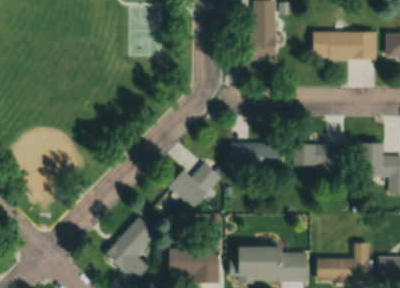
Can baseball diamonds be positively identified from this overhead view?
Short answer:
Yes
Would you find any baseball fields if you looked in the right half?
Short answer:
No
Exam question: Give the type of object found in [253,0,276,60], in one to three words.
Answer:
house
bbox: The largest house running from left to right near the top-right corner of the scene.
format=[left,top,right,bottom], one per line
[314,32,378,60]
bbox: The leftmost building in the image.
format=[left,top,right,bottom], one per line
[103,219,152,281]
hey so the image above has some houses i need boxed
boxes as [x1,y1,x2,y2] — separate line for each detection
[103,219,152,281]
[253,0,276,60]
[314,32,378,60]
[317,242,370,281]
[386,33,400,56]
[169,248,220,282]
[362,142,400,194]
[378,256,400,279]
[230,142,282,164]
[170,162,220,206]
[294,143,342,166]
[230,246,308,282]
